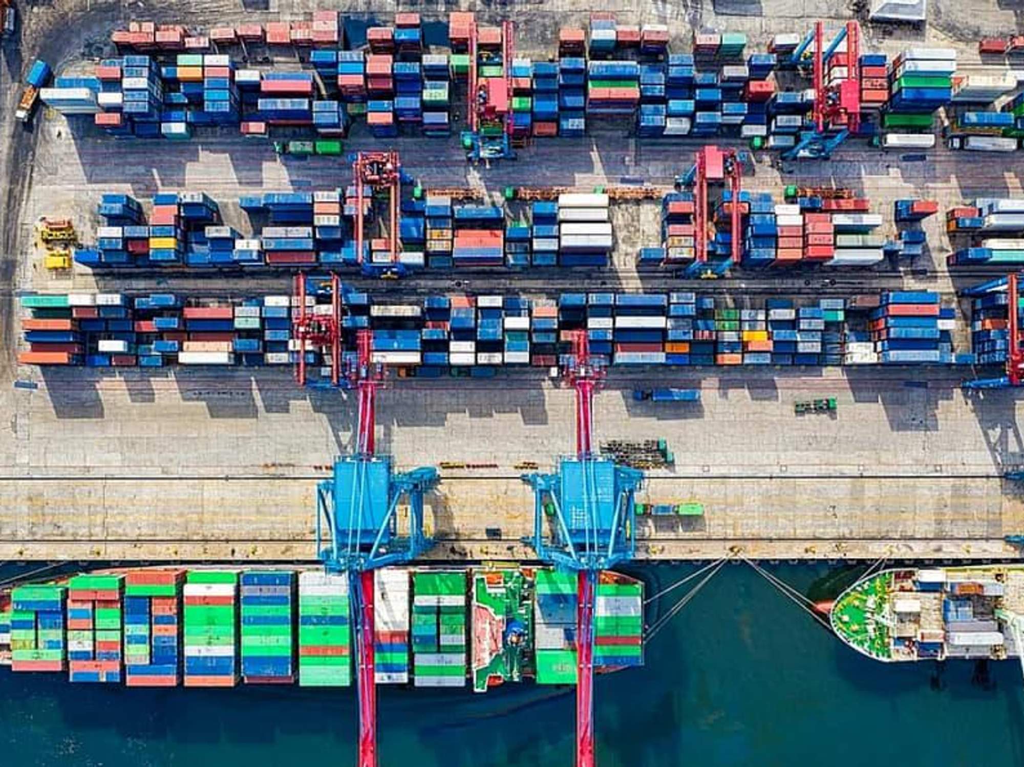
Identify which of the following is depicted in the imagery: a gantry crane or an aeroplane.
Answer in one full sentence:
Of the two, only a gantry crane appears.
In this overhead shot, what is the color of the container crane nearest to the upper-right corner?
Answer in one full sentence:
The container crane nearest to the upper-right corner is red.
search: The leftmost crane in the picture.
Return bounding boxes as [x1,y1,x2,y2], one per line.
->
[294,273,362,394]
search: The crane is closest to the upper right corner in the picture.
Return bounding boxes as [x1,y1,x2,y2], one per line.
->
[780,23,860,166]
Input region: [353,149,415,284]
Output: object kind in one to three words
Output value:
container crane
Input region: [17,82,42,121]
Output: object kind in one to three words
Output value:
truck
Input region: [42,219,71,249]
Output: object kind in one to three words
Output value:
work vehicle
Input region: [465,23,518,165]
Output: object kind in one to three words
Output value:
container crane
